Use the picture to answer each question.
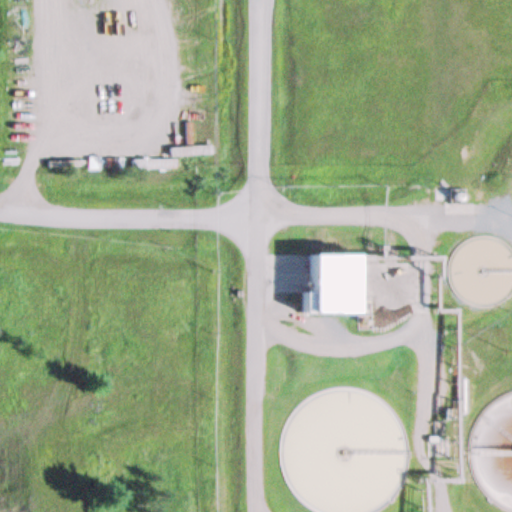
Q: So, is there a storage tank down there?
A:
Yes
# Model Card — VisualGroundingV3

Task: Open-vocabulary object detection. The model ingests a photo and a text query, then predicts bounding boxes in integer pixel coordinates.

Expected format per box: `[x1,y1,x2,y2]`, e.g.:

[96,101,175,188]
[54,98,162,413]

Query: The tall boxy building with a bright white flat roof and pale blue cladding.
[302,253,366,318]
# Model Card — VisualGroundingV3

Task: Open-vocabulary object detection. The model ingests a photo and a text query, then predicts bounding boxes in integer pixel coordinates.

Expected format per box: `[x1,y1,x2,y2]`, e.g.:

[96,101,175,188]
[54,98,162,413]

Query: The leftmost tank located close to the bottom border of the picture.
[281,386,408,512]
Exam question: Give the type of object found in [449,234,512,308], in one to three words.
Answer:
storage tank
